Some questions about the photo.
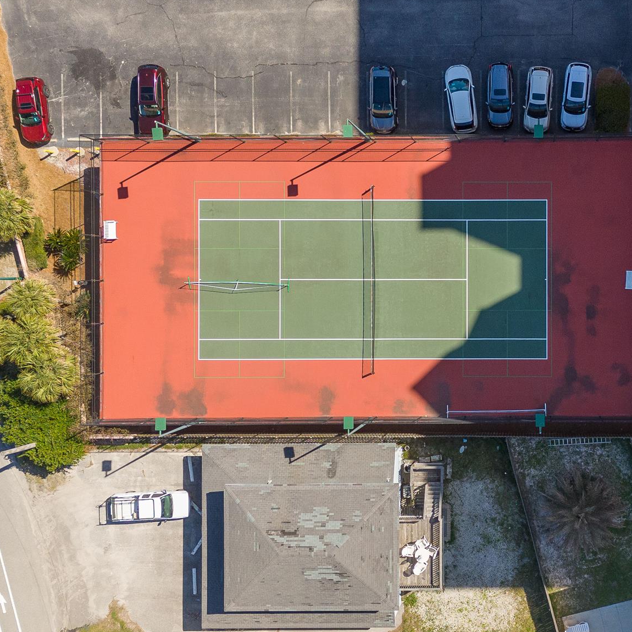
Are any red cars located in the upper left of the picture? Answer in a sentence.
Yes, looking in the upper left of the picture, one can make out a red car.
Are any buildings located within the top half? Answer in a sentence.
No, there is no building within the top half.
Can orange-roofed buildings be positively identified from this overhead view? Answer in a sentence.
No, I find no orange-roofed building anywhere in the image.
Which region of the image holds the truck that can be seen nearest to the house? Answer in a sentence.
The truck that can be seen nearest to the house is in the bottom left part of the image.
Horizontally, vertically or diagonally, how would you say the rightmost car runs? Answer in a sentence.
I'd say the rightmost car is aligned vertically in the picture.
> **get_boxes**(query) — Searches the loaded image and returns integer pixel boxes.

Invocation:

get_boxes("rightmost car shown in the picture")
[559,61,593,135]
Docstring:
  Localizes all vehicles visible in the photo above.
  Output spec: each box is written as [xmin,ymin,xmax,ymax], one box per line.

[14,75,57,145]
[443,65,477,135]
[135,63,172,135]
[559,61,593,135]
[484,61,517,131]
[522,65,555,135]
[366,65,399,135]
[102,490,193,524]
